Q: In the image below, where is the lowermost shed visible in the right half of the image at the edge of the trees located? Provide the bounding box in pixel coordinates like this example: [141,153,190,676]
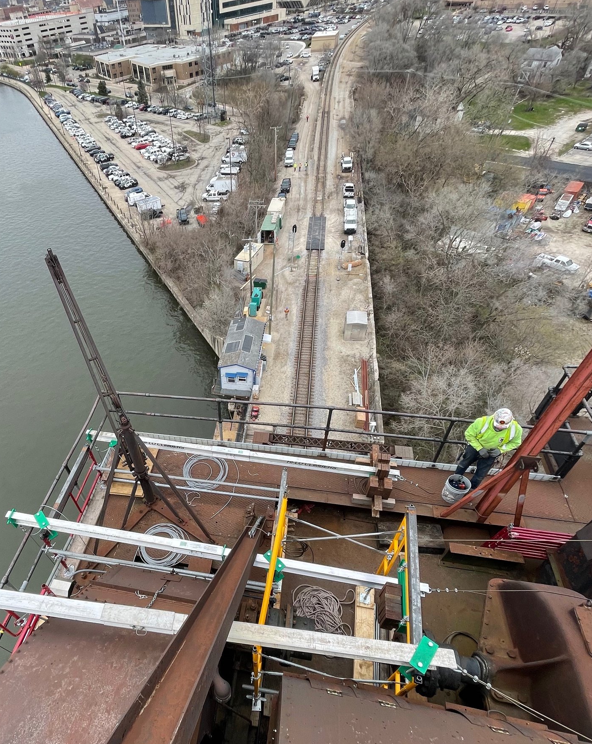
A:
[345,311,370,340]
